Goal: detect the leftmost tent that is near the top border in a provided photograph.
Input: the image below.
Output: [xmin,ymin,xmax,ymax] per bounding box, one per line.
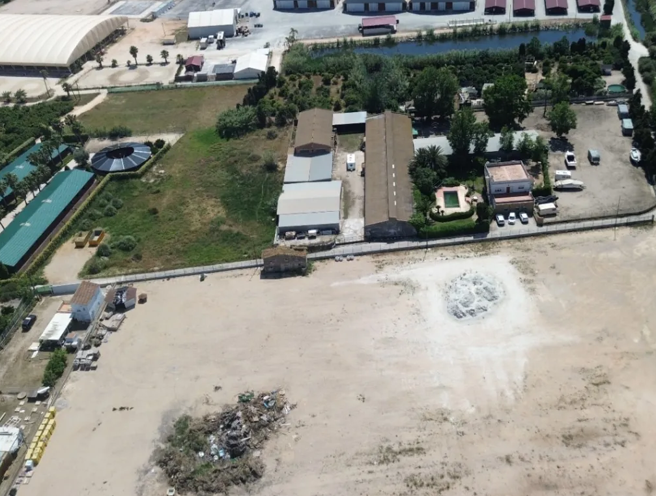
[186,12,235,38]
